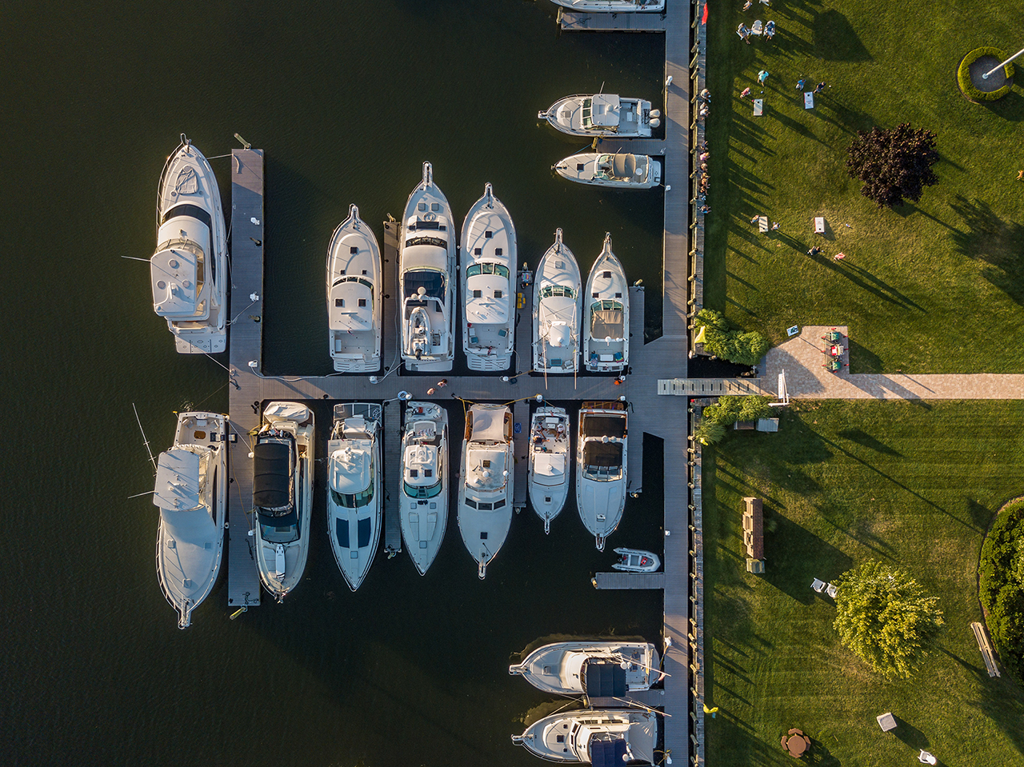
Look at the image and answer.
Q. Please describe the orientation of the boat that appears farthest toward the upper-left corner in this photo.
up and down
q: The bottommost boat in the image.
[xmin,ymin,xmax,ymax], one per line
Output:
[511,706,656,767]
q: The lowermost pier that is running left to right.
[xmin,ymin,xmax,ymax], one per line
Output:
[590,688,665,707]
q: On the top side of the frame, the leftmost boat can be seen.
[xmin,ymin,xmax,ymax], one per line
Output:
[124,134,232,353]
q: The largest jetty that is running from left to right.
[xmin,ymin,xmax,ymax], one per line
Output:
[262,376,629,399]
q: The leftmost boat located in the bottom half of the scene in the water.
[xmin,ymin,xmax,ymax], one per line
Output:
[124,403,239,629]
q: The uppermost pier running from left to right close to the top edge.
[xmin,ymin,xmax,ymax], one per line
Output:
[561,13,665,32]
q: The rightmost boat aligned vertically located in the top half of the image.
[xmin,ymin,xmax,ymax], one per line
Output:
[583,232,630,373]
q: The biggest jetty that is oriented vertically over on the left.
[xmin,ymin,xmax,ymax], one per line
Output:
[229,149,265,606]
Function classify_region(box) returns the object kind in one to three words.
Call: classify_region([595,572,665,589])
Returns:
pier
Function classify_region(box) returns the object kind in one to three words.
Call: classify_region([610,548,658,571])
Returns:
boat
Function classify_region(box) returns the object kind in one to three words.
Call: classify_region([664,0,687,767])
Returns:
pier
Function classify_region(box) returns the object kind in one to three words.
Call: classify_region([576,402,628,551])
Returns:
boat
